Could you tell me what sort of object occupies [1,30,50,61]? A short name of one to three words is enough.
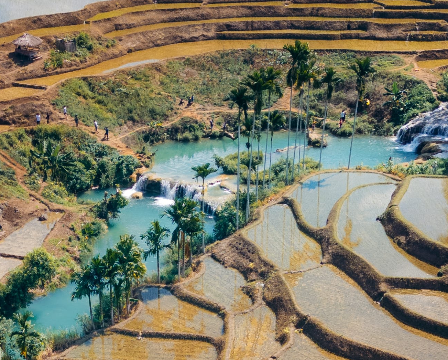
shed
